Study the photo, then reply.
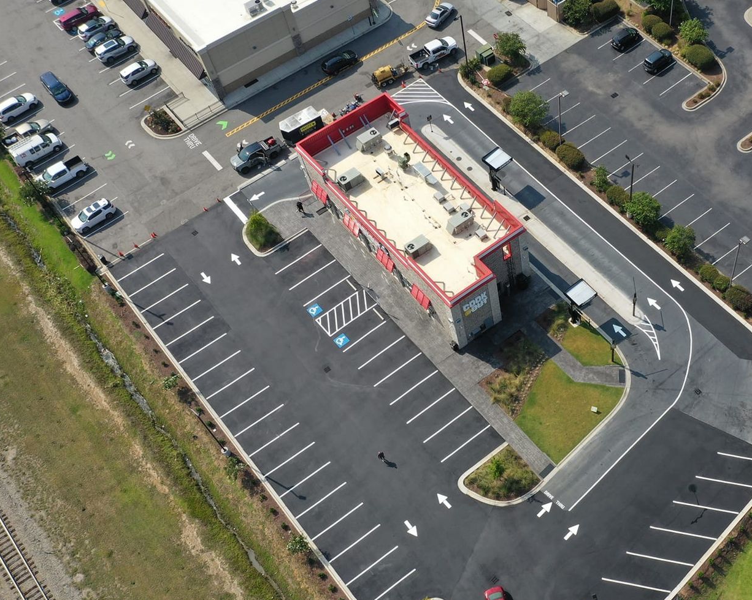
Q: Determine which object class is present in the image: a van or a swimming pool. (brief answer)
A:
van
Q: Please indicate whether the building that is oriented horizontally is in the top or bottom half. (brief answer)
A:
top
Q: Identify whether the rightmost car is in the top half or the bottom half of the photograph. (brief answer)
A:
top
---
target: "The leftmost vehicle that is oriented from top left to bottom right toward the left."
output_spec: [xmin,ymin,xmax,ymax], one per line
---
[38,69,76,102]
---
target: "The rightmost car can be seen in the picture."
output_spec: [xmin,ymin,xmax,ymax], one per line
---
[642,49,676,74]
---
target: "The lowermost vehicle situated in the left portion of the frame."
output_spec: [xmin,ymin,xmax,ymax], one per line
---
[70,198,120,232]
